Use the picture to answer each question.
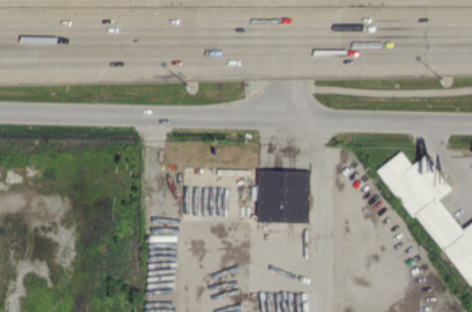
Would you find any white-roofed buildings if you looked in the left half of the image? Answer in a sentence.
No, the scene shows no white-roofed building in the left half of the image.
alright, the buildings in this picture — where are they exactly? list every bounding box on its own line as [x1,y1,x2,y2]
[258,170,309,222]
[377,152,472,286]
